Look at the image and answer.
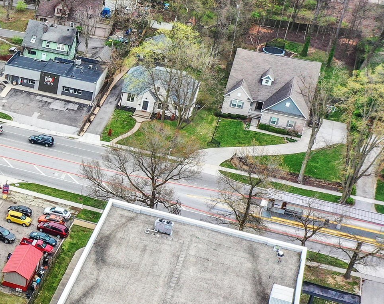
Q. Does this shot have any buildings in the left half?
Yes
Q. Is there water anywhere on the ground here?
No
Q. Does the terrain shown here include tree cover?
Yes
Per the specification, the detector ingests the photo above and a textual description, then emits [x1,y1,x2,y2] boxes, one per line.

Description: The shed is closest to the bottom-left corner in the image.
[1,243,44,290]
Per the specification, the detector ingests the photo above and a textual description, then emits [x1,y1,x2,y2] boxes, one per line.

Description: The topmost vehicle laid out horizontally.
[28,133,55,147]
